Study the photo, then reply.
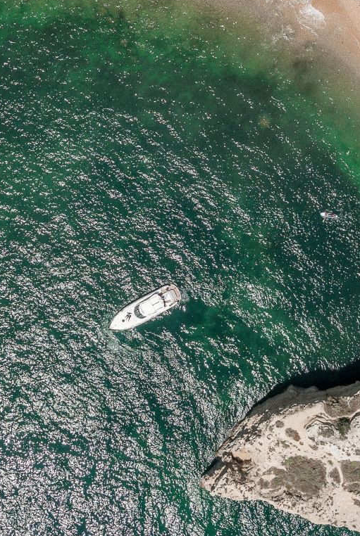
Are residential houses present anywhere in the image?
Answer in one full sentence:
No, I can't see a single residential house in this photo.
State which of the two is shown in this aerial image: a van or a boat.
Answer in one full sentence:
There is a boat in the scene.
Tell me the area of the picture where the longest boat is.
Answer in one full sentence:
You can find the longest boat in the center area of the picture.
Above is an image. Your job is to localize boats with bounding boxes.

[109,284,182,329]
[319,211,338,222]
